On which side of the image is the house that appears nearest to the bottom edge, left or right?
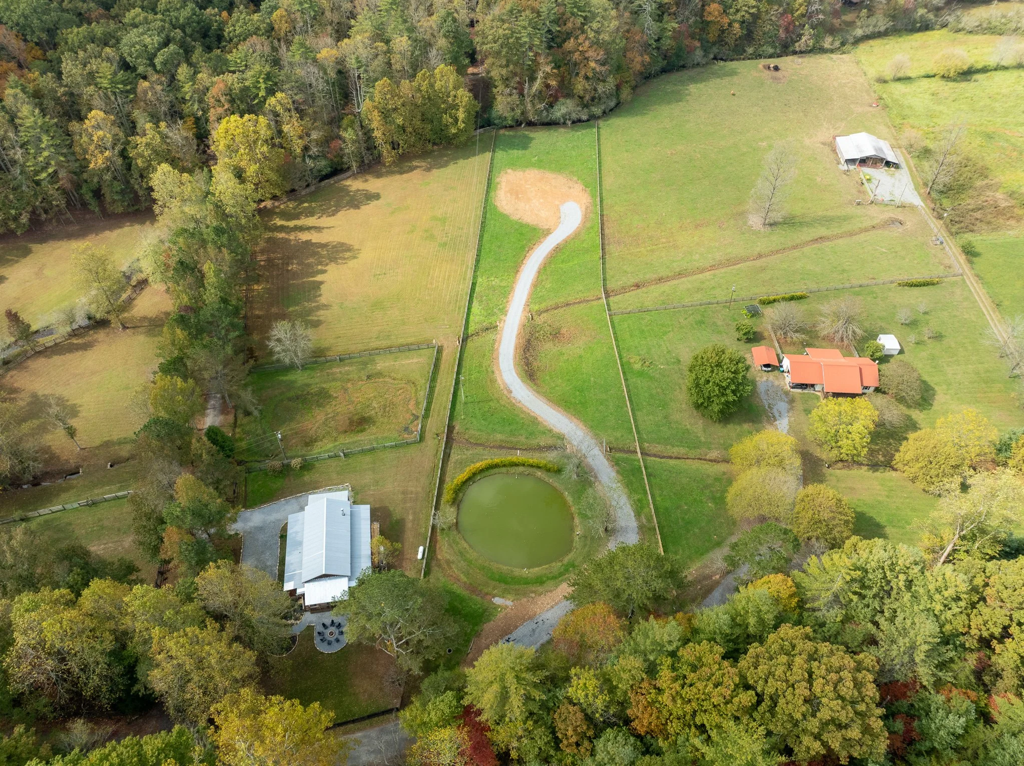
left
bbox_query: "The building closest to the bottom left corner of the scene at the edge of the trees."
[283,490,372,619]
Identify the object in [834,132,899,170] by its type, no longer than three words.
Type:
barn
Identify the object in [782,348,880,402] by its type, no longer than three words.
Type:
house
